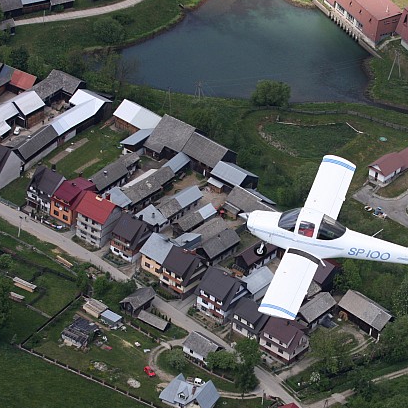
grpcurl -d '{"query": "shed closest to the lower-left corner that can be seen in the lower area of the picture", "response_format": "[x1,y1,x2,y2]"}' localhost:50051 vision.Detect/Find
[62,324,99,353]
